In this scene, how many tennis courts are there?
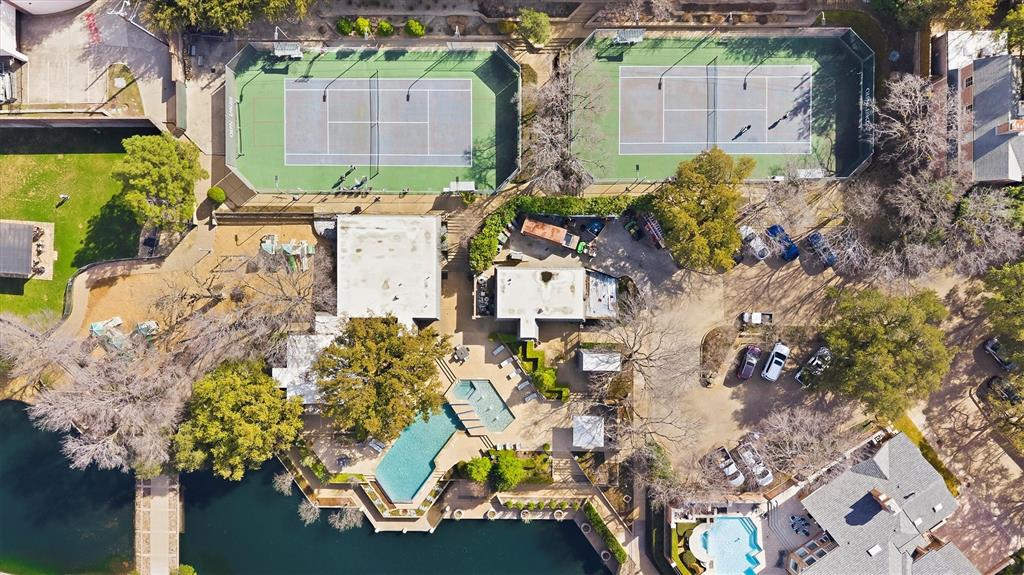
two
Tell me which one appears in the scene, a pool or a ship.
pool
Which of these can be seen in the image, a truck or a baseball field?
truck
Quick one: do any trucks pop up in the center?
Yes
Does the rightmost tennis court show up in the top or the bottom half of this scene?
top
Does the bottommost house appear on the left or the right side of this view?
right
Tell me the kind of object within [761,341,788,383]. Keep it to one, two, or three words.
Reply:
car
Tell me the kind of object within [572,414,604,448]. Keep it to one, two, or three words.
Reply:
building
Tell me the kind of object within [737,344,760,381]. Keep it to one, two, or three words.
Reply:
car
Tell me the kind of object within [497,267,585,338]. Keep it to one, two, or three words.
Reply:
building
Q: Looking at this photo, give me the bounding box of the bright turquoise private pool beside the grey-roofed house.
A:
[690,513,768,575]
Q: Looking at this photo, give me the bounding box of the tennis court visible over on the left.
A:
[236,50,521,196]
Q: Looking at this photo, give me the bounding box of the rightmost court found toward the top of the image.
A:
[568,37,862,187]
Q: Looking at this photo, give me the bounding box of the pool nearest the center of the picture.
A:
[451,378,518,435]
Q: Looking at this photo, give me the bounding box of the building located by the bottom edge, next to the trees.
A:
[783,432,980,575]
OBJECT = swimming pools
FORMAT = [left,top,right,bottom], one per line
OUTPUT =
[373,359,493,505]
[451,378,518,435]
[690,513,768,575]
